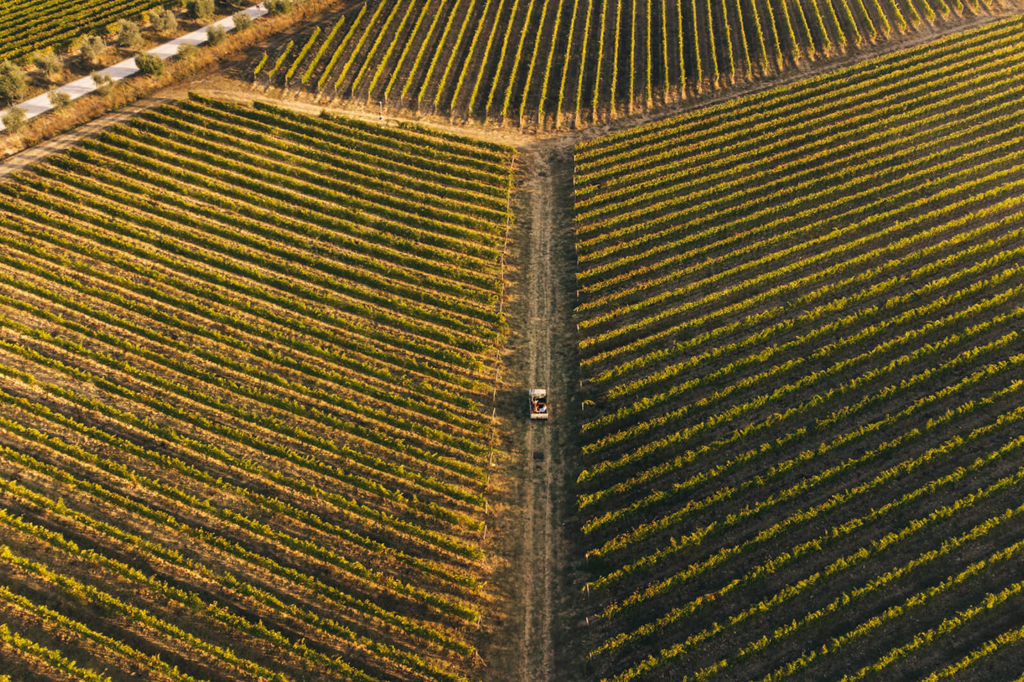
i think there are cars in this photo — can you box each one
[530,388,548,420]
